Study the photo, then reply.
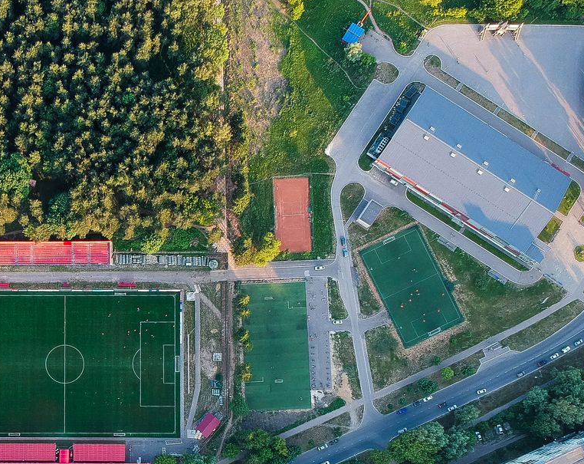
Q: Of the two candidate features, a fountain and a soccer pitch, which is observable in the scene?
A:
soccer pitch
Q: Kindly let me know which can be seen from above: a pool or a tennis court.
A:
tennis court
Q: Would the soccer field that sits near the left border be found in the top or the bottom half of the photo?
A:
bottom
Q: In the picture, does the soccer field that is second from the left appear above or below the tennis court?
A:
below it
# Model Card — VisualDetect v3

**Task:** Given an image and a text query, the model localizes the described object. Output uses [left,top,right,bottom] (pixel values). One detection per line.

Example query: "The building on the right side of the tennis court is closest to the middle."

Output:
[354,199,383,230]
